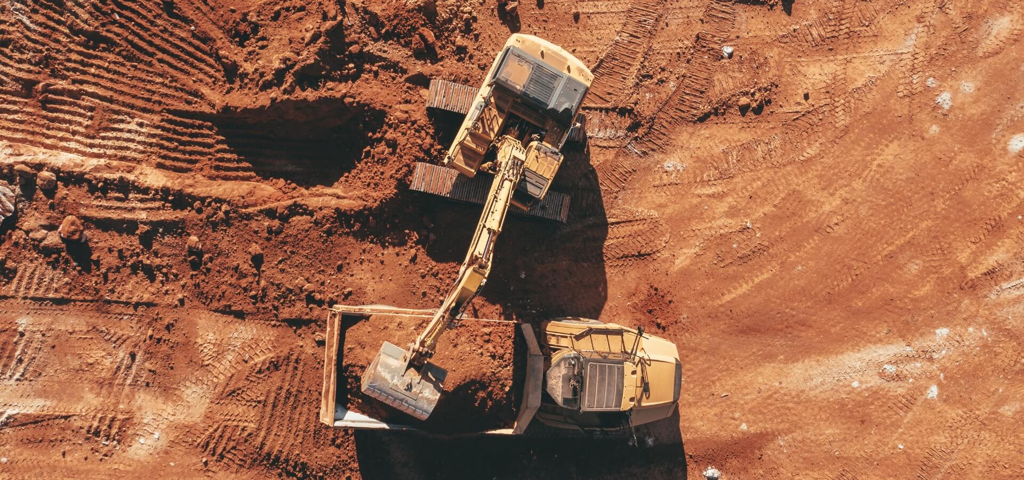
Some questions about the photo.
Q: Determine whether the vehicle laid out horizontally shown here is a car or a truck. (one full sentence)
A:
Specifically, the vehicle laid out horizontally is a truck.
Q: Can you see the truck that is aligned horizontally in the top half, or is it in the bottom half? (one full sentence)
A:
The truck that is aligned horizontally sits in the bottom half of the picture.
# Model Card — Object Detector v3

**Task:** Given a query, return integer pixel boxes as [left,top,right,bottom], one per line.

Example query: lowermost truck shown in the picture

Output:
[322,301,680,447]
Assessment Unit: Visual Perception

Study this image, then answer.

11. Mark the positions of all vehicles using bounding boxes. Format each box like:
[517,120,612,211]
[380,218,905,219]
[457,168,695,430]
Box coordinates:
[365,36,590,420]
[322,301,680,447]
